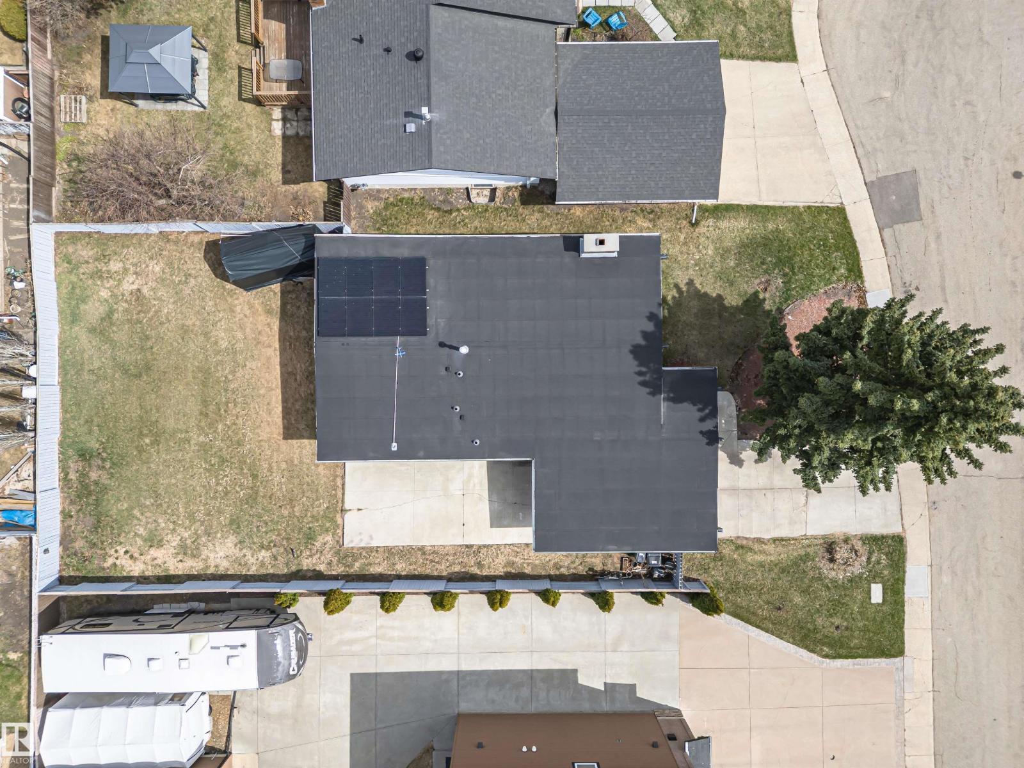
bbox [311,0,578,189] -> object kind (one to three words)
house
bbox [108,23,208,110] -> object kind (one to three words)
gazebo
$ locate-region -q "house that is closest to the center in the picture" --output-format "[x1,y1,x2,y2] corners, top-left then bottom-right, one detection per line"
[316,232,721,553]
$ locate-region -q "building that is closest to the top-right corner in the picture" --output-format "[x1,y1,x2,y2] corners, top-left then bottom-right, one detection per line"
[556,39,725,223]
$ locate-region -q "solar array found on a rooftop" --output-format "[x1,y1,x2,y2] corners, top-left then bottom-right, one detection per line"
[319,258,431,336]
